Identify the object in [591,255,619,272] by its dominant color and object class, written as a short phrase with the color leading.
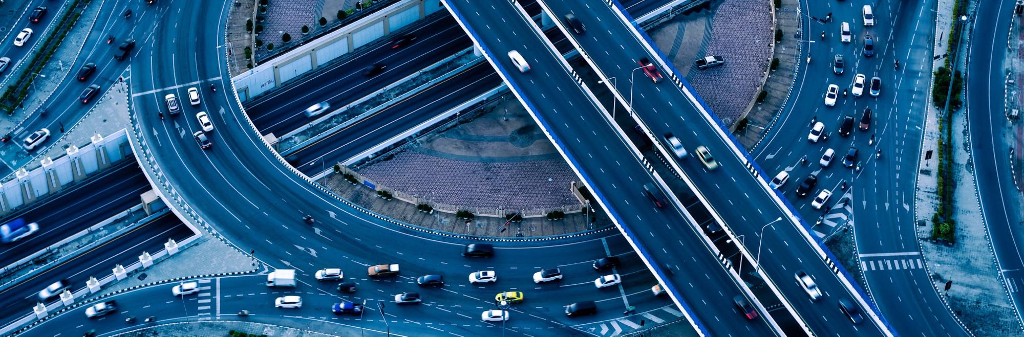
black car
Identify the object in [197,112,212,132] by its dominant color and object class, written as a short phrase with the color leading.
white car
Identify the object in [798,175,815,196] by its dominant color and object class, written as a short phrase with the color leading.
black car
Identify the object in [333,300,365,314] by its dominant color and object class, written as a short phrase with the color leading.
blue vehicle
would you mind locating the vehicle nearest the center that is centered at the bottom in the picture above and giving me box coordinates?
[462,242,492,257]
